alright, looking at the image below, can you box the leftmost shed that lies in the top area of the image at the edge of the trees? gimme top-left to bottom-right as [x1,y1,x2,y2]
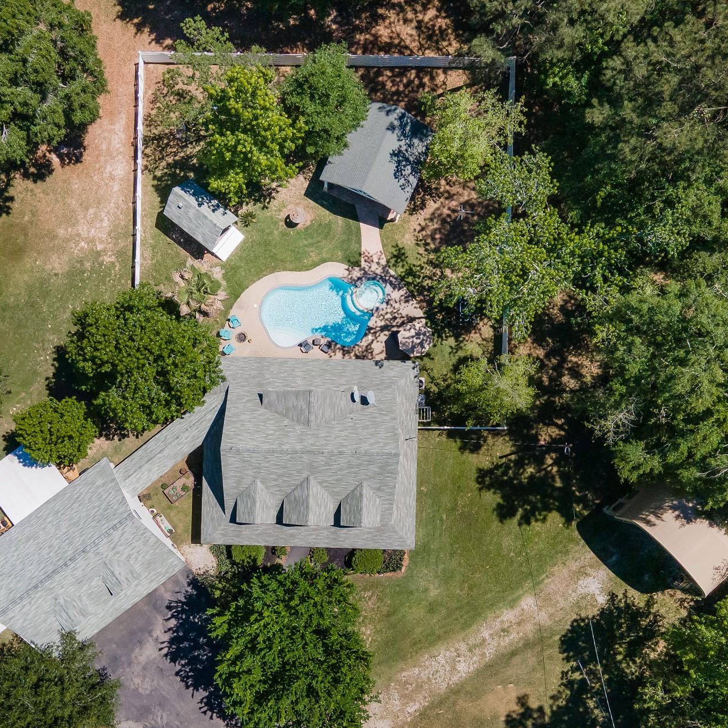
[163,180,248,265]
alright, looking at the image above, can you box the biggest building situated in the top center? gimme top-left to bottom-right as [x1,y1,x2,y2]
[317,96,434,218]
